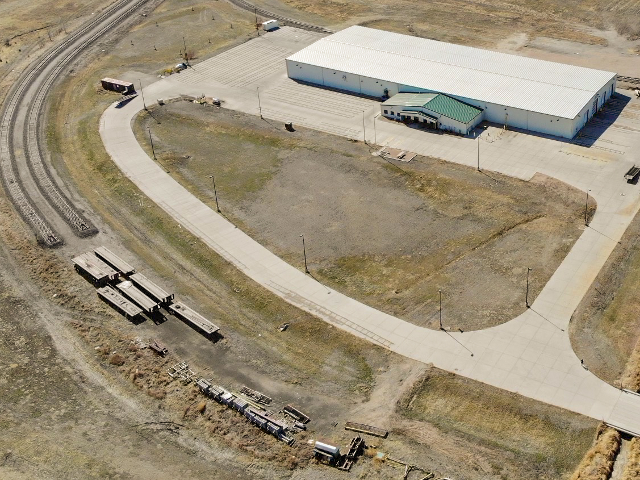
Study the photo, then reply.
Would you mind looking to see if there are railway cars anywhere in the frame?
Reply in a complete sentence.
Yes, a railway car is visible in the scene.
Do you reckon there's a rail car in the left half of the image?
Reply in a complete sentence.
Yes, in the left half of the image there is a rail car.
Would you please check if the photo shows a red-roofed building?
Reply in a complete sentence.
No, the picture doesn't show any red-roofed building.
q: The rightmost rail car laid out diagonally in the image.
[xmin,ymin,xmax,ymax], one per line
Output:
[169,301,219,335]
